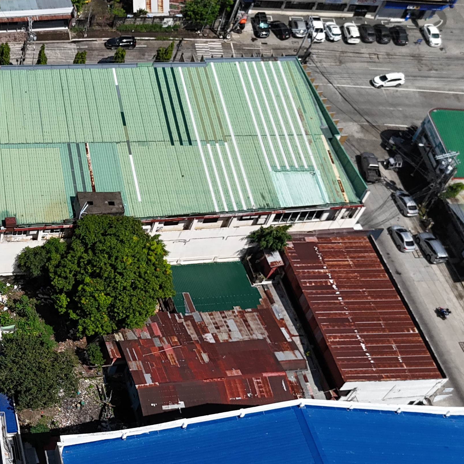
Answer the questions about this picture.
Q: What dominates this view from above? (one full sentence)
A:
The bulk of the photo consists of buildings.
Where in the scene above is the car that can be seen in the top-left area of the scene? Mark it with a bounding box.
[105,34,138,51]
